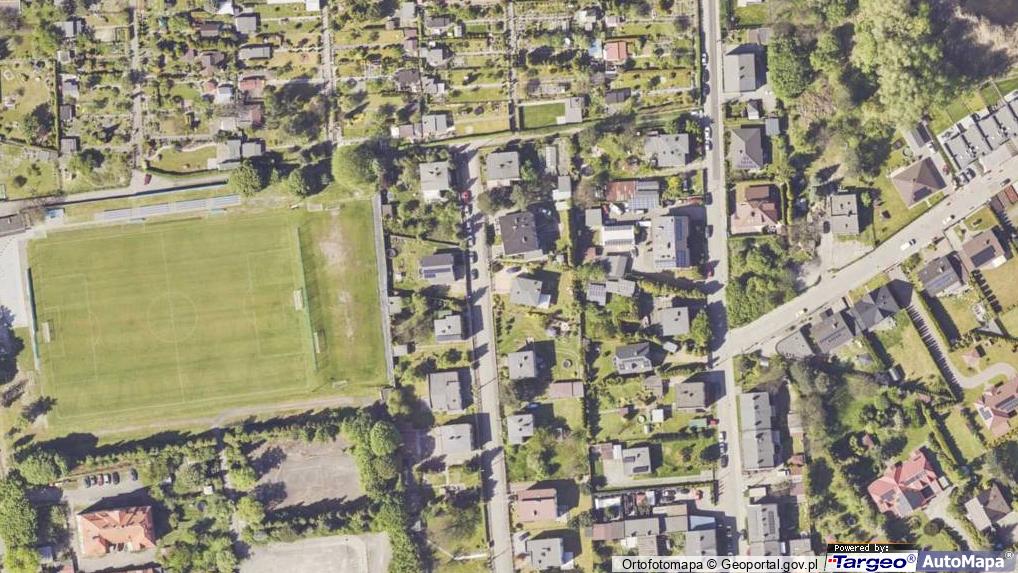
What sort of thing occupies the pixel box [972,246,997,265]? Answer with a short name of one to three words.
solar panel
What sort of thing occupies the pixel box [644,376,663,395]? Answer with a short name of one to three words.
shed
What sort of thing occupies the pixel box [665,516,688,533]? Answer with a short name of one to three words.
house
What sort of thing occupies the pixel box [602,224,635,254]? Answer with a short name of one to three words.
building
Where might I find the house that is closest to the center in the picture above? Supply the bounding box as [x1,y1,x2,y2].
[510,276,552,308]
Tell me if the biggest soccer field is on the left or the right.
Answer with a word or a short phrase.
left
